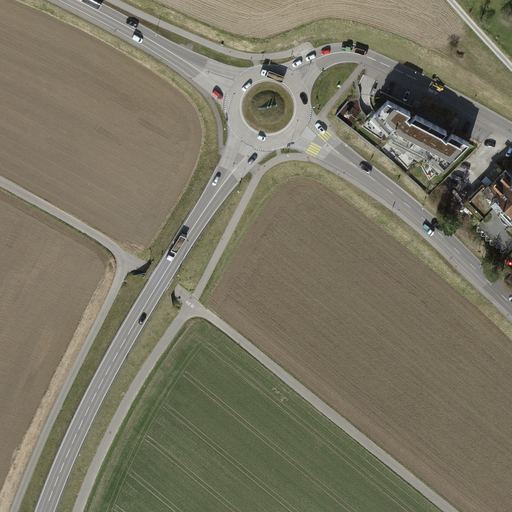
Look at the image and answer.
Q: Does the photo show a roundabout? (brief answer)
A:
Yes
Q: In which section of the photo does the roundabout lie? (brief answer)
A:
top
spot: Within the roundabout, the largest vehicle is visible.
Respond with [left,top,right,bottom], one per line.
[262,68,286,82]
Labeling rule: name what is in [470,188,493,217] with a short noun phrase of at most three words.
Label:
shed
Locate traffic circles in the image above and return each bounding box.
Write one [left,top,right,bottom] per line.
[224,64,312,151]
